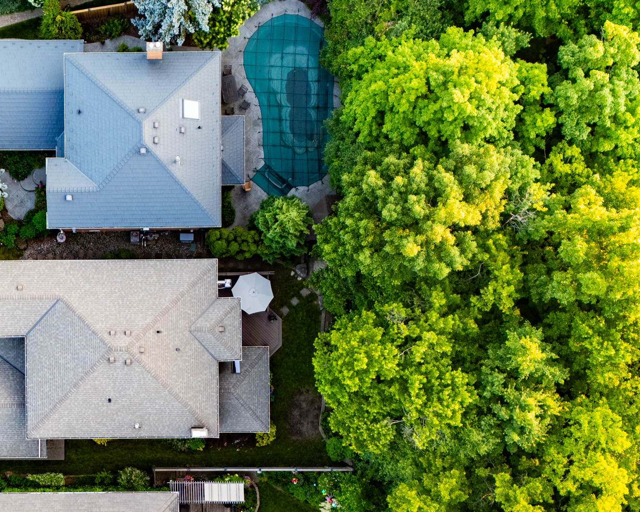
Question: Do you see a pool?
Yes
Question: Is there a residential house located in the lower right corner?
No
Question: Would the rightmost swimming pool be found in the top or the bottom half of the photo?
top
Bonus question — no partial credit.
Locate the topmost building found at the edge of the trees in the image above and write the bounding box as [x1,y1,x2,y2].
[0,38,247,238]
